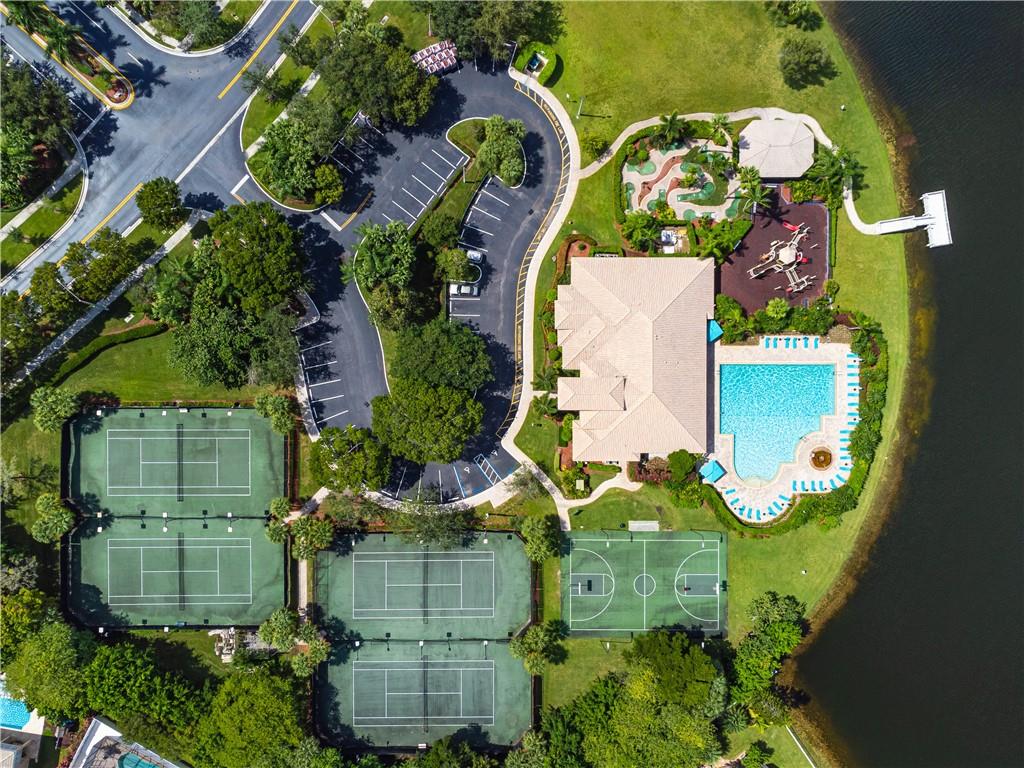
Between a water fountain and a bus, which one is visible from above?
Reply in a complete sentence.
Looking from above, you can make out a water fountain.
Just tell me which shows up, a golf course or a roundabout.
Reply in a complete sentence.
I can see a golf course in this picture.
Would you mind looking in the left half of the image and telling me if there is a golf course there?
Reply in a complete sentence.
No, no golf course can be made out in the left half of the image.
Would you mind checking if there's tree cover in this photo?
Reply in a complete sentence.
Yes, tree cover shows up in the scene.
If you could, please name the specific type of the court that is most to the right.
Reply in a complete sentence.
I'd say the court that is most to the right is a basketball court.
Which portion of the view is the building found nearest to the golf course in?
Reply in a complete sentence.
The building found nearest to the golf course is located in the top right region of the scene.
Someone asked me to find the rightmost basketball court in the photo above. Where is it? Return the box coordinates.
[561,531,728,638]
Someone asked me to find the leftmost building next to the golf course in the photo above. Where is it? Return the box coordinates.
[555,257,715,467]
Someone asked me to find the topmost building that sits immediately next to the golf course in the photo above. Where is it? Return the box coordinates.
[735,120,814,181]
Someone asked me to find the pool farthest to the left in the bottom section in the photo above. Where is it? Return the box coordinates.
[0,695,32,733]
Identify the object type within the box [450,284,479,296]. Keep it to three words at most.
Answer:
vehicle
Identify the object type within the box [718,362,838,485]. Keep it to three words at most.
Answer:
swimming pool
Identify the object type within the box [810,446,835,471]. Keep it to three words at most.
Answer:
fountain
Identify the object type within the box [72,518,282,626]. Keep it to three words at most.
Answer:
tennis court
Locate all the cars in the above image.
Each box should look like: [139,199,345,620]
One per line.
[450,284,479,296]
[456,247,483,264]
